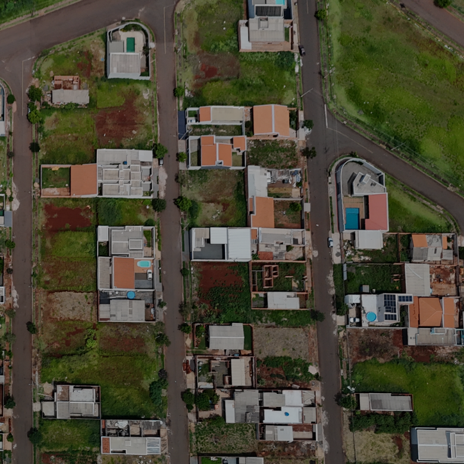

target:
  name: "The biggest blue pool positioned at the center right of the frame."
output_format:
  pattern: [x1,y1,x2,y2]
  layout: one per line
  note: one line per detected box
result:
[346,207,360,230]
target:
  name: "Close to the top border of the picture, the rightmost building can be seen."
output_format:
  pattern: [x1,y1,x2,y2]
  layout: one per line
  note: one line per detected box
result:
[236,0,293,56]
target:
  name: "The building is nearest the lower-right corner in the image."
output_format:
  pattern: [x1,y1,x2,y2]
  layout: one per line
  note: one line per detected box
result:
[410,427,464,463]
